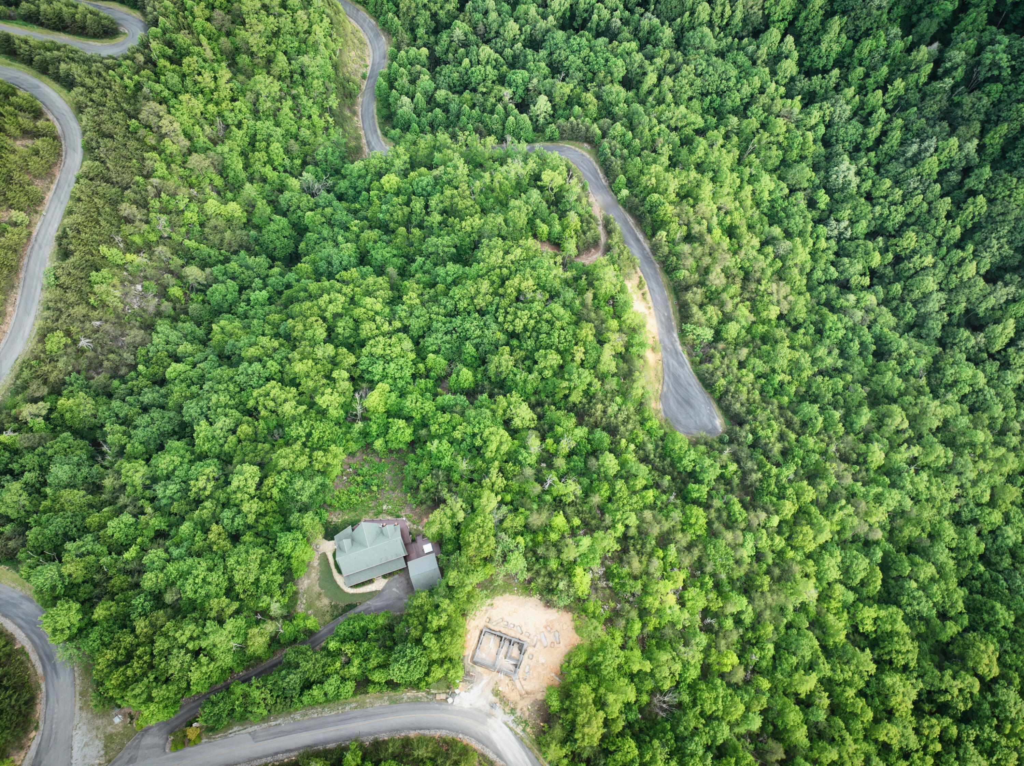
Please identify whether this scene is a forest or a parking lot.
forest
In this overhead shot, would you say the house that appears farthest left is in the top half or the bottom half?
bottom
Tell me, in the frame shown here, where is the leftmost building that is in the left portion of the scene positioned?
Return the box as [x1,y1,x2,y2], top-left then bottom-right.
[334,522,408,588]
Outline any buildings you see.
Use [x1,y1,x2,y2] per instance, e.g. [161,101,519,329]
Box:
[334,522,408,588]
[407,553,441,592]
